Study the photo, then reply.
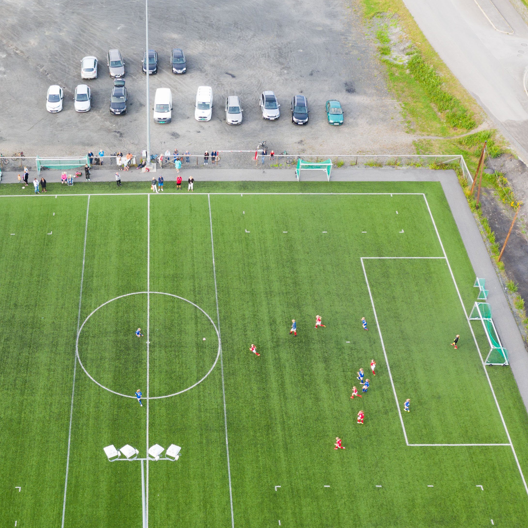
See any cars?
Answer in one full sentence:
Yes, there's a car down there.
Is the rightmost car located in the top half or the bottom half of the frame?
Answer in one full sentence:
The top half of the photo is where the rightmost car is.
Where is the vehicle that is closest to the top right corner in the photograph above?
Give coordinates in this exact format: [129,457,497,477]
[324,99,345,125]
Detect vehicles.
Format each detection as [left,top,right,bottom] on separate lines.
[259,89,280,120]
[108,50,125,78]
[141,47,159,74]
[291,94,310,125]
[193,85,213,121]
[324,99,345,125]
[225,95,244,125]
[73,85,92,112]
[170,47,187,74]
[45,86,63,113]
[80,57,98,80]
[153,86,173,123]
[109,76,128,115]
